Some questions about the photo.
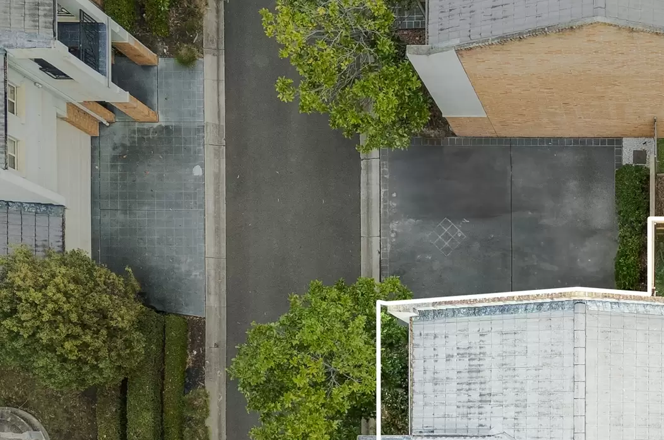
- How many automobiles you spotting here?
0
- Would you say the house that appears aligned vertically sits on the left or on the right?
left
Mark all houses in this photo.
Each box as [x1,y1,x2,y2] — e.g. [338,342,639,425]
[0,0,130,280]
[405,0,664,136]
[356,300,664,440]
